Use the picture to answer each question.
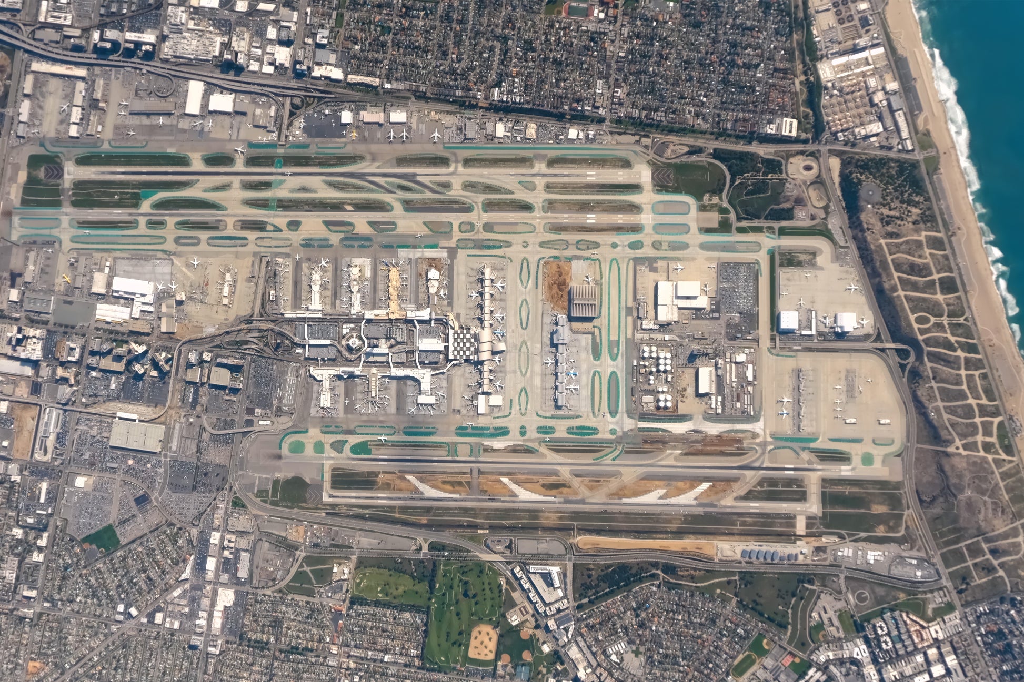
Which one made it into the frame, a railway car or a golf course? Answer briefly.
golf course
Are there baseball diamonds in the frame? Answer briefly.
Yes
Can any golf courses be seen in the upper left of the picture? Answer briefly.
No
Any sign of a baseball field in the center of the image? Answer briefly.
No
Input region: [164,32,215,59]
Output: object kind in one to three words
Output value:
building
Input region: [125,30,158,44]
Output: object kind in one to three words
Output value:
building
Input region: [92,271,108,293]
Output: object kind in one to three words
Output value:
hangar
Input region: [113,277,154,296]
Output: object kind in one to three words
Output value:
hangar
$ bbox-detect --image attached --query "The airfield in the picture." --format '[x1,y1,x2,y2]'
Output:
[10,68,906,534]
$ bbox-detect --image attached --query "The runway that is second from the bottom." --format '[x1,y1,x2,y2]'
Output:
[281,454,889,475]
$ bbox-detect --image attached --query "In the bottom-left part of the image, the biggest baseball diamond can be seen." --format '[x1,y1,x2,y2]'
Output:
[81,524,120,554]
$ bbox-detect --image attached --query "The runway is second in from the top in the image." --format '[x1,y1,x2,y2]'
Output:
[13,210,697,223]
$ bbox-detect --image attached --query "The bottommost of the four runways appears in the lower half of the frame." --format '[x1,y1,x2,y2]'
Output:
[323,494,817,515]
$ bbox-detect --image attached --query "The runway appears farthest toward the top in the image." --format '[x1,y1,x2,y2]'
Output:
[64,167,651,181]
